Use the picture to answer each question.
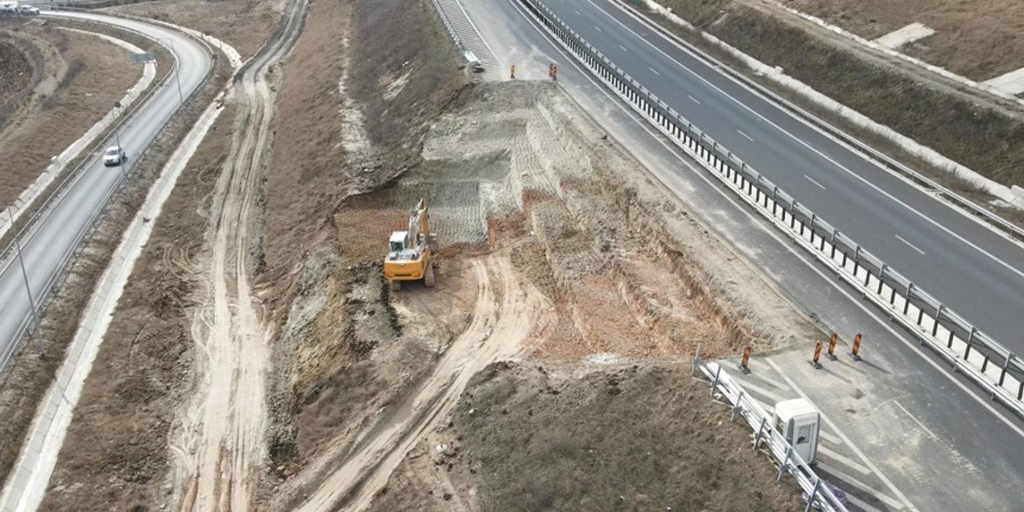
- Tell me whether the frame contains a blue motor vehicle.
No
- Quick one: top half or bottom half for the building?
bottom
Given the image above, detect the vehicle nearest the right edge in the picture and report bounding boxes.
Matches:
[387,193,433,286]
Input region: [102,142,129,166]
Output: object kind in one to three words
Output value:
car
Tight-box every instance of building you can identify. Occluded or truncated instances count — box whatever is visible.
[776,404,821,467]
